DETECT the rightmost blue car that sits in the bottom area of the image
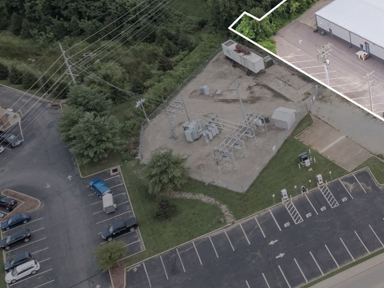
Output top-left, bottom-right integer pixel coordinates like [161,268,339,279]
[89,178,112,197]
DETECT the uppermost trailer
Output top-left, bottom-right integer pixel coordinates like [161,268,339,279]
[222,42,265,74]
